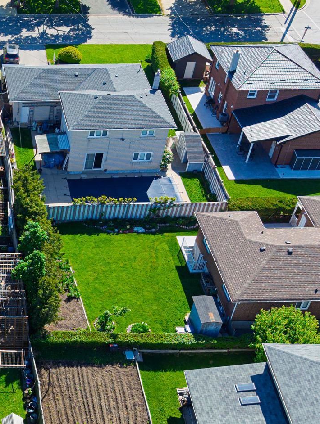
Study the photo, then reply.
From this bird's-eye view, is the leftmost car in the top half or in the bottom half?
top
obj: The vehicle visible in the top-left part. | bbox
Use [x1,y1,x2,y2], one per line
[1,44,21,64]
